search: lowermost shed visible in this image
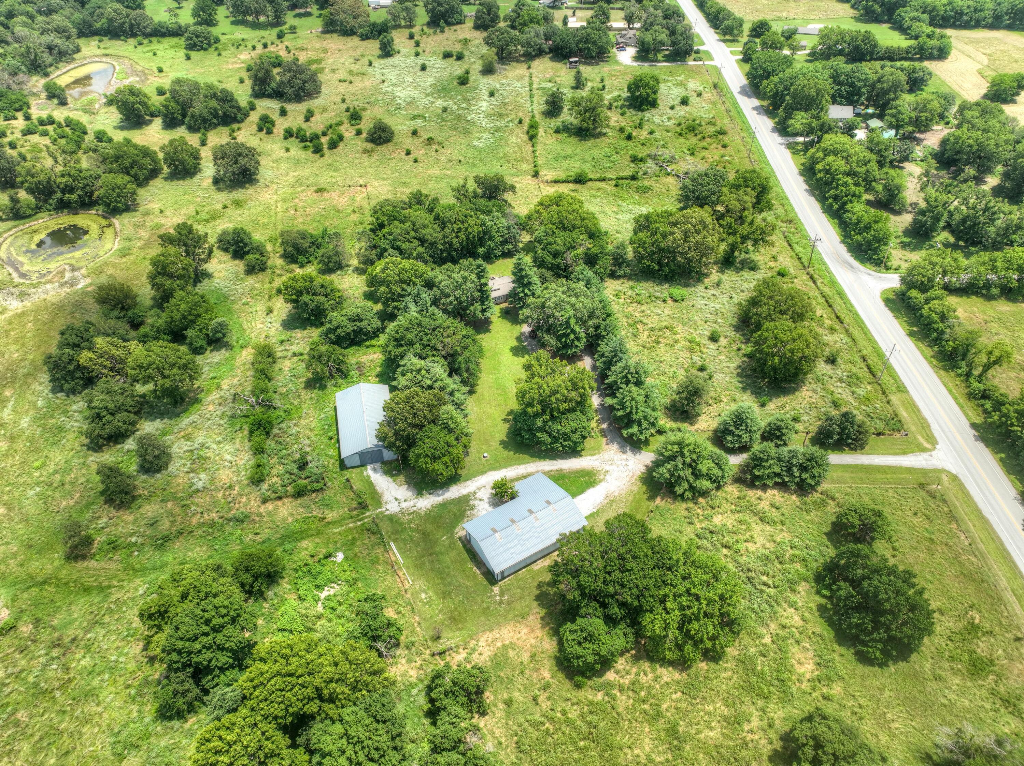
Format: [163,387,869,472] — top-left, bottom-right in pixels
[462,472,588,583]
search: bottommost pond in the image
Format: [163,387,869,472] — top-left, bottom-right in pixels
[0,215,114,278]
